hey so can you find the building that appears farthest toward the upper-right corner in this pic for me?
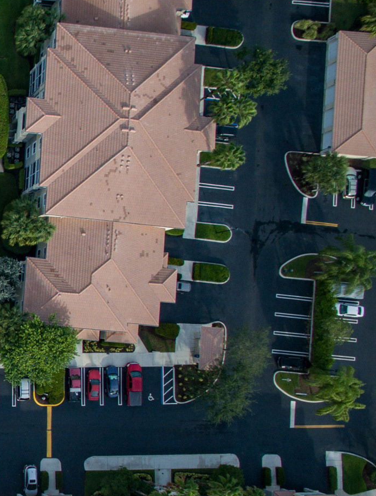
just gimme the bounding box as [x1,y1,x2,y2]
[322,29,376,158]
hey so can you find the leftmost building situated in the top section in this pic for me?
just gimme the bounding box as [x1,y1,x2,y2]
[8,0,216,345]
